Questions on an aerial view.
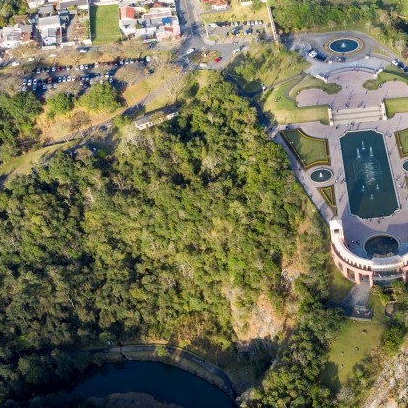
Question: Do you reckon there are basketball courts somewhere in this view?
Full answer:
No, the frame has no basketball court in it.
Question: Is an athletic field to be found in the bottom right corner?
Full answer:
No, the scene shows no athletic field in the bottom right corner.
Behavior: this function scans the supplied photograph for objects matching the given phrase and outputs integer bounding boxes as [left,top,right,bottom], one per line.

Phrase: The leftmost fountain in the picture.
[310,167,331,181]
